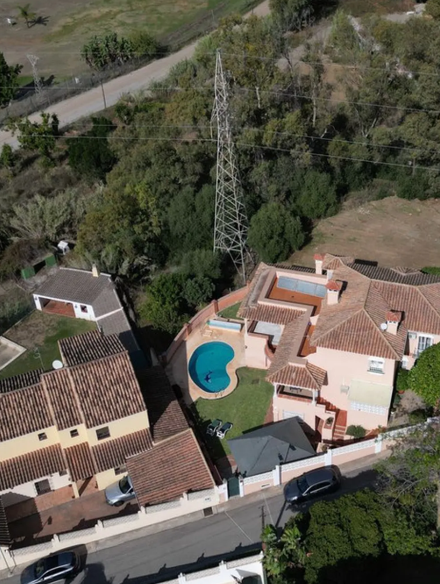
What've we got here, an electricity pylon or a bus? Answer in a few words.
electricity pylon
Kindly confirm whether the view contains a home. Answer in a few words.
Yes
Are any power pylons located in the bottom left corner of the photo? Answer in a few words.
No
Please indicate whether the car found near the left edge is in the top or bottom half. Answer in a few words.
bottom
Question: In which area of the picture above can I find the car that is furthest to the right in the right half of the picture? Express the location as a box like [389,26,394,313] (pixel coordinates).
[282,461,345,503]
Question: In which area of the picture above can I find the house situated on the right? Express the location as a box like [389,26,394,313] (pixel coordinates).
[236,251,440,429]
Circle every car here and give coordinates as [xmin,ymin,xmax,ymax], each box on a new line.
[99,473,137,507]
[282,461,345,503]
[17,542,85,584]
